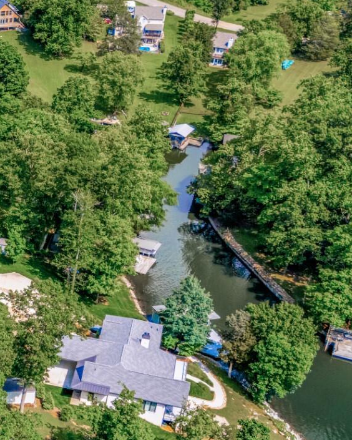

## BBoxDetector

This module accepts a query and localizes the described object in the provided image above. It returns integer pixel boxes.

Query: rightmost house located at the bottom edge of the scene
[57,311,187,428]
